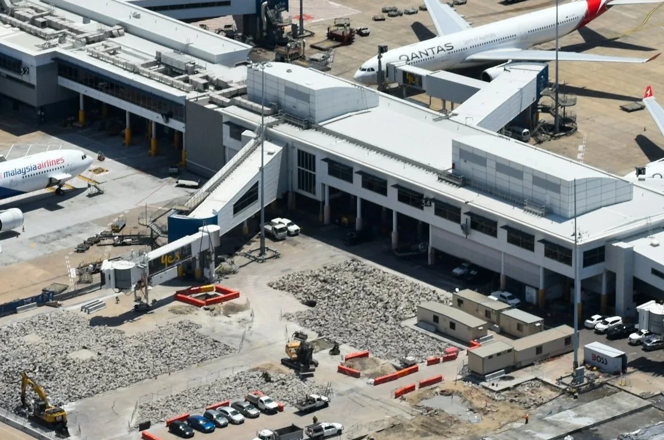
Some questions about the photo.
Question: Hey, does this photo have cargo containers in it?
Yes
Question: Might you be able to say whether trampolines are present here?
No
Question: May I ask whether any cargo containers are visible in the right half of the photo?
Yes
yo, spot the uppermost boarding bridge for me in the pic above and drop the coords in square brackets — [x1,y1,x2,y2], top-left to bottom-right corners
[343,59,502,131]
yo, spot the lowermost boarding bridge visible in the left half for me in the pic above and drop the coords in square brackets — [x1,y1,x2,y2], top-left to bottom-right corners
[88,228,226,307]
